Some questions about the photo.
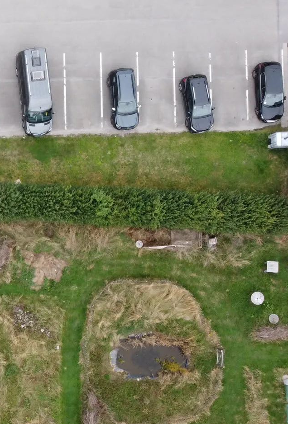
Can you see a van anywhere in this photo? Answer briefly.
Yes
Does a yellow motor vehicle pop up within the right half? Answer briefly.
No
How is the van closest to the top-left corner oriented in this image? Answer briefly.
up and down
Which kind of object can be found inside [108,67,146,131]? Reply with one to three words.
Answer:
car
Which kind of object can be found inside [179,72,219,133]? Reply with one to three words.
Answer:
car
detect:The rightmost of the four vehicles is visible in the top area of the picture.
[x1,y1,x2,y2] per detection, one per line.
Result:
[253,61,288,124]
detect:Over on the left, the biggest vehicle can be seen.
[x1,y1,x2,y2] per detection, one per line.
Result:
[16,45,61,140]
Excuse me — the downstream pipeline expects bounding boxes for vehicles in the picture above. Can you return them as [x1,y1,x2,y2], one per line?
[16,45,61,140]
[108,67,146,131]
[253,61,288,124]
[179,72,219,133]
